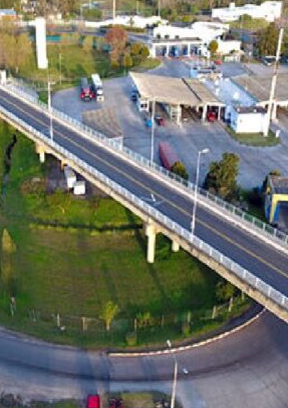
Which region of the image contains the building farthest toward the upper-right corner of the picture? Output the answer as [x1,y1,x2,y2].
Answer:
[263,0,286,23]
